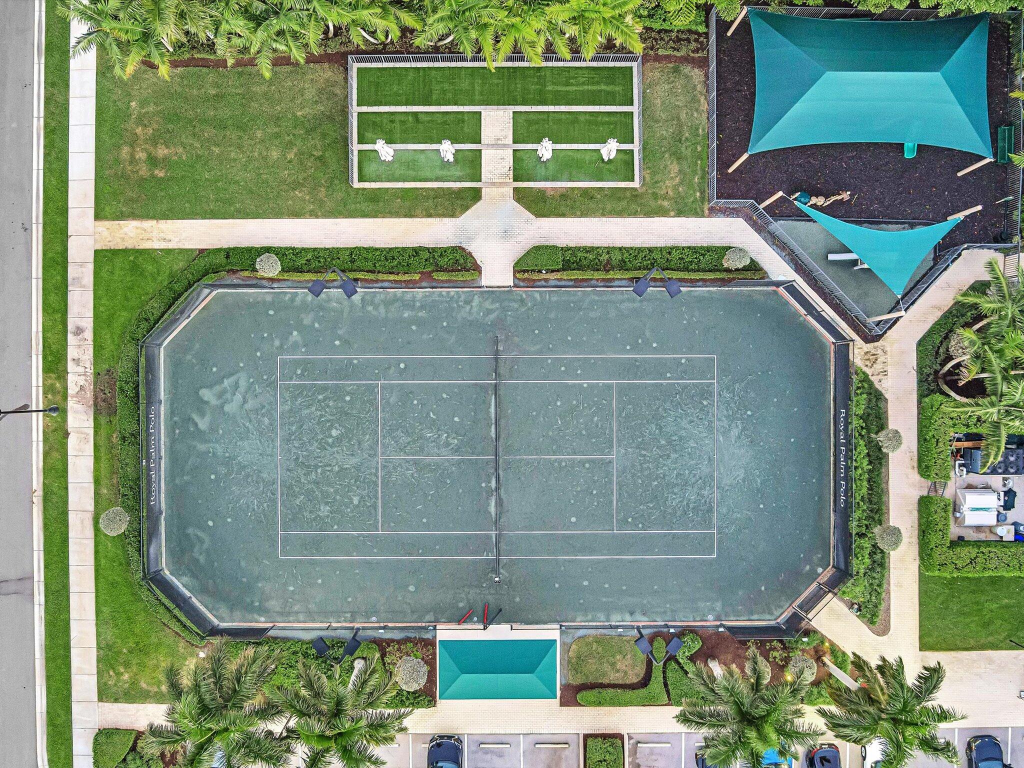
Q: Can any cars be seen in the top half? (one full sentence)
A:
No, in the top half there is no car.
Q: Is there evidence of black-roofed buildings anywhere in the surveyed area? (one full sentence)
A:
No, there appears to be no black-roofed building in this shot.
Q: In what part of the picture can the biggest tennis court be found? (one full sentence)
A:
Look in the center portion of the view to spot the biggest tennis court.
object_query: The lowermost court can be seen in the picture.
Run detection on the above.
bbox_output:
[160,286,833,626]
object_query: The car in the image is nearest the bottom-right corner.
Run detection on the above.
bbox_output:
[965,733,1015,768]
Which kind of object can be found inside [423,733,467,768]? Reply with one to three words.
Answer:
car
